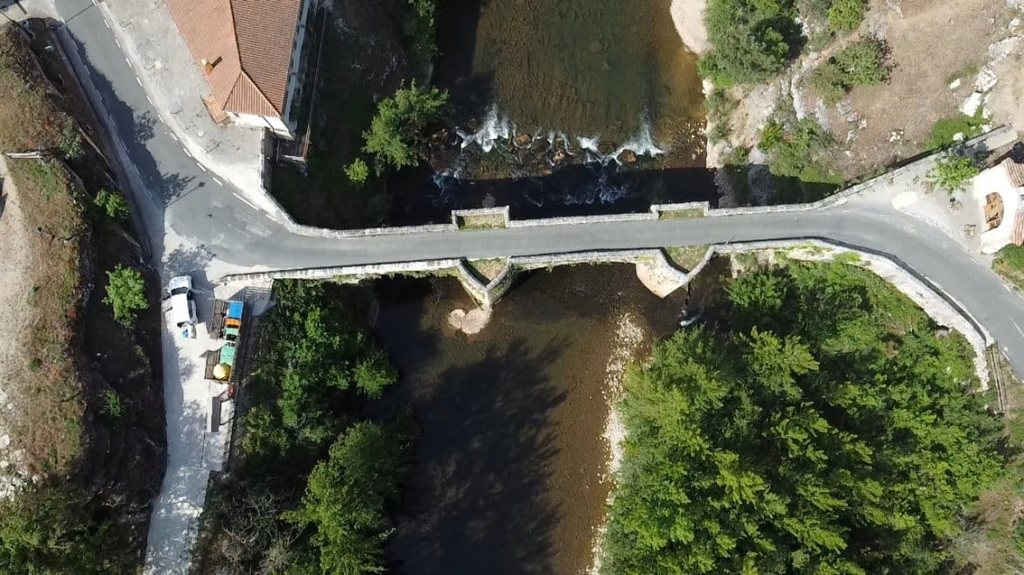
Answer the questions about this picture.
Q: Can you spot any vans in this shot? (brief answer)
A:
Yes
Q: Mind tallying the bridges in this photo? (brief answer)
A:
1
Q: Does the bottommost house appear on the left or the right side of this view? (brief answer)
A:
right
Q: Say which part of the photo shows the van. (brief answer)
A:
left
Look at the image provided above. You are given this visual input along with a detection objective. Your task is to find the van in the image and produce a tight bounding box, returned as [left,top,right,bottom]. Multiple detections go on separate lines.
[166,276,200,335]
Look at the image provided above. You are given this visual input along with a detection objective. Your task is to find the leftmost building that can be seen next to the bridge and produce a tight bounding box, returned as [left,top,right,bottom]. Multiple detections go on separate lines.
[165,0,332,167]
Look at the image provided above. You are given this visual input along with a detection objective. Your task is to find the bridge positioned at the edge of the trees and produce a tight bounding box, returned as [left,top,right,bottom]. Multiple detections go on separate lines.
[219,187,843,304]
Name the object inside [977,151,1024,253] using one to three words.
house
